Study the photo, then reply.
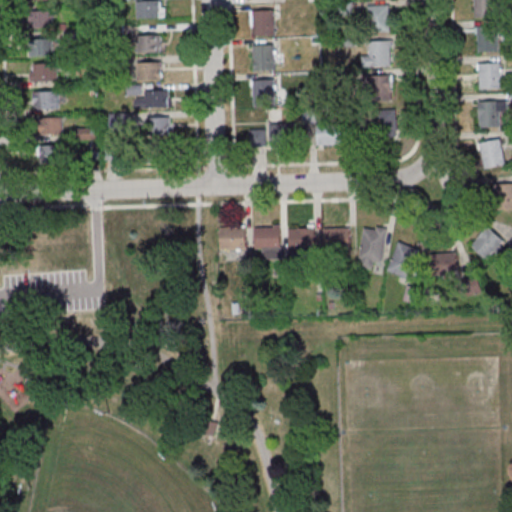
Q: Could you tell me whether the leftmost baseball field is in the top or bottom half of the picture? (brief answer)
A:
bottom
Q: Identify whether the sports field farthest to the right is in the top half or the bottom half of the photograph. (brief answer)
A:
bottom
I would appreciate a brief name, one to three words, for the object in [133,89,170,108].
house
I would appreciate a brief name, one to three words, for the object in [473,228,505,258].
house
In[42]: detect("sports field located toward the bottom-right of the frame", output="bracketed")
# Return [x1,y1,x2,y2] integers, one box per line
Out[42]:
[344,356,504,512]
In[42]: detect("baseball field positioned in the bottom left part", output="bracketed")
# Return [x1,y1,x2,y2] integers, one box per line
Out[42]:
[28,406,216,512]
